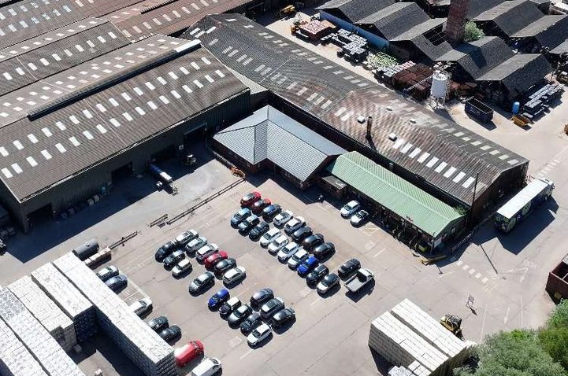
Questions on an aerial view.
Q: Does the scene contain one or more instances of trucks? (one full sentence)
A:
Yes, the photo shows a truck.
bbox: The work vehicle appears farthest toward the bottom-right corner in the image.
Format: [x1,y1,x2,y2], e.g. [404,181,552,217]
[439,308,468,343]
